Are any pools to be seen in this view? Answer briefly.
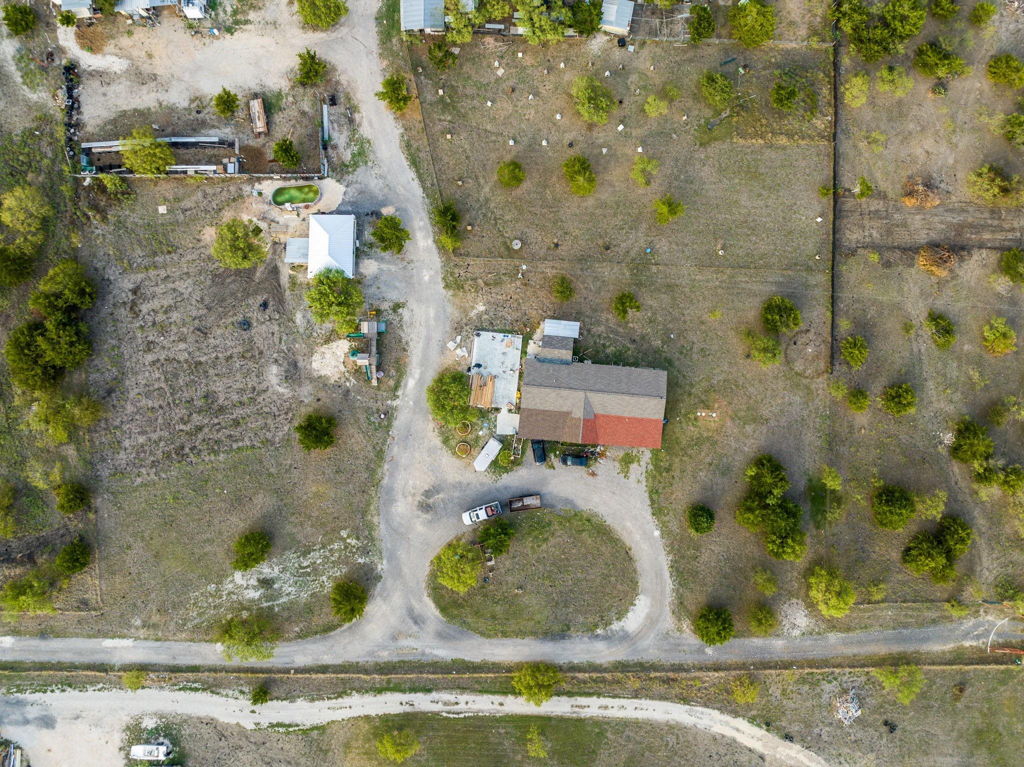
Yes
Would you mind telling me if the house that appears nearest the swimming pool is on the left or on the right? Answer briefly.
left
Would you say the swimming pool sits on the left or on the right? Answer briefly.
left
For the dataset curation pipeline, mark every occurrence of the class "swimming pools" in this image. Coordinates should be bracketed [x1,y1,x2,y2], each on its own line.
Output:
[270,183,323,208]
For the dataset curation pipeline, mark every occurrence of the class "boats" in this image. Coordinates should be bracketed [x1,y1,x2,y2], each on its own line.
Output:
[131,745,169,760]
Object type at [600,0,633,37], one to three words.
barn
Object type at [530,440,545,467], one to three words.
car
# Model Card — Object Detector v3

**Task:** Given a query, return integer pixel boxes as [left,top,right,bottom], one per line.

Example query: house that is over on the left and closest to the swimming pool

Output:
[285,214,356,278]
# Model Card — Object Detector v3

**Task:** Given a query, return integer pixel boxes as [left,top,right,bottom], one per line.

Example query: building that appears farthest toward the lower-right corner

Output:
[518,319,667,448]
